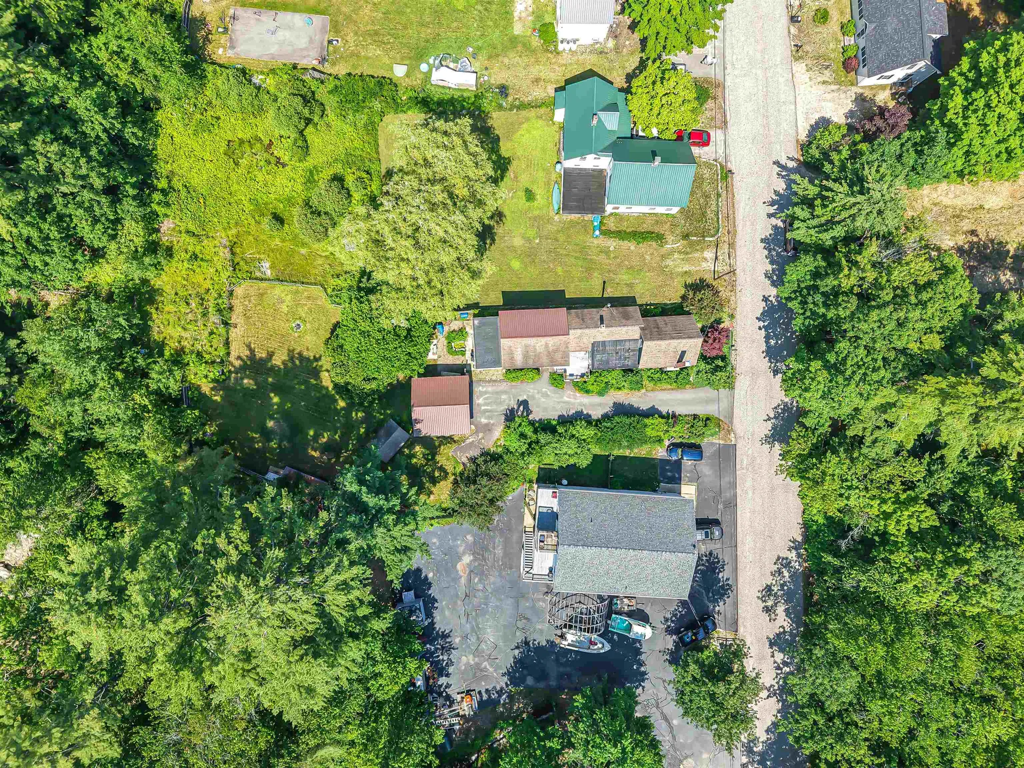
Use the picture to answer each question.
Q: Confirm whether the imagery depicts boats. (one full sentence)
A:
Yes, there's a boat here.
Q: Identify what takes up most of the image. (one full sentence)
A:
The bulk of the photo consists of trees.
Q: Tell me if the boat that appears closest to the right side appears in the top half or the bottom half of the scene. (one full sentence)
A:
The boat that appears closest to the right side sits in the bottom half of the picture.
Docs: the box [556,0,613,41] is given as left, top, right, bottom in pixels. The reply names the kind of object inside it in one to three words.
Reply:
shed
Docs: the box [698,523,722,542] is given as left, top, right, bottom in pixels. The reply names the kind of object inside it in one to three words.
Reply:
vehicle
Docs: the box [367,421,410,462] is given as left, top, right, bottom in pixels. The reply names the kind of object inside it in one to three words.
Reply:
shed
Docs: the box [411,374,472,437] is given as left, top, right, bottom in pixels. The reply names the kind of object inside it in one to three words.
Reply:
building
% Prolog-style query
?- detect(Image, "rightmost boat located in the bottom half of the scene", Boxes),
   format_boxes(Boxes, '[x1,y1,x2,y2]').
[607,617,658,643]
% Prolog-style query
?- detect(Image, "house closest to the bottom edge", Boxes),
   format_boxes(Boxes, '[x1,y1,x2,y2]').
[552,482,699,600]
